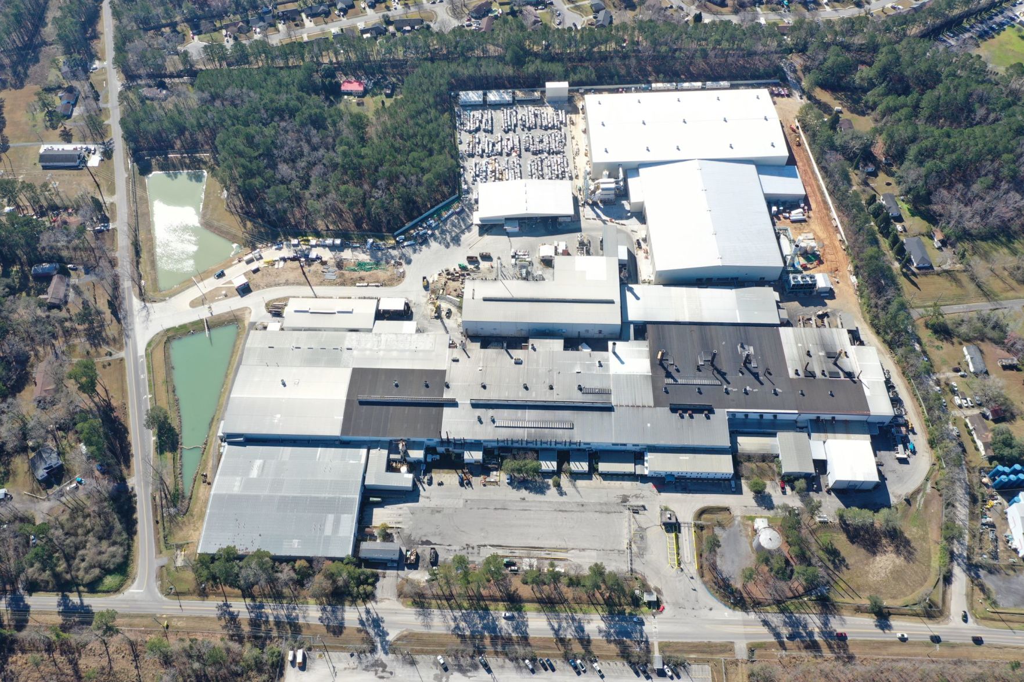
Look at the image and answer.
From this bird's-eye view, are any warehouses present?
Yes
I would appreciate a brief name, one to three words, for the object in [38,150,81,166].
house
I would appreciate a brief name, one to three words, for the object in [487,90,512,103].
building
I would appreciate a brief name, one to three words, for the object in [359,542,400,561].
building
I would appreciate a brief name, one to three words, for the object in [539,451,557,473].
shed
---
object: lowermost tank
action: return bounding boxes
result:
[754,528,782,556]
